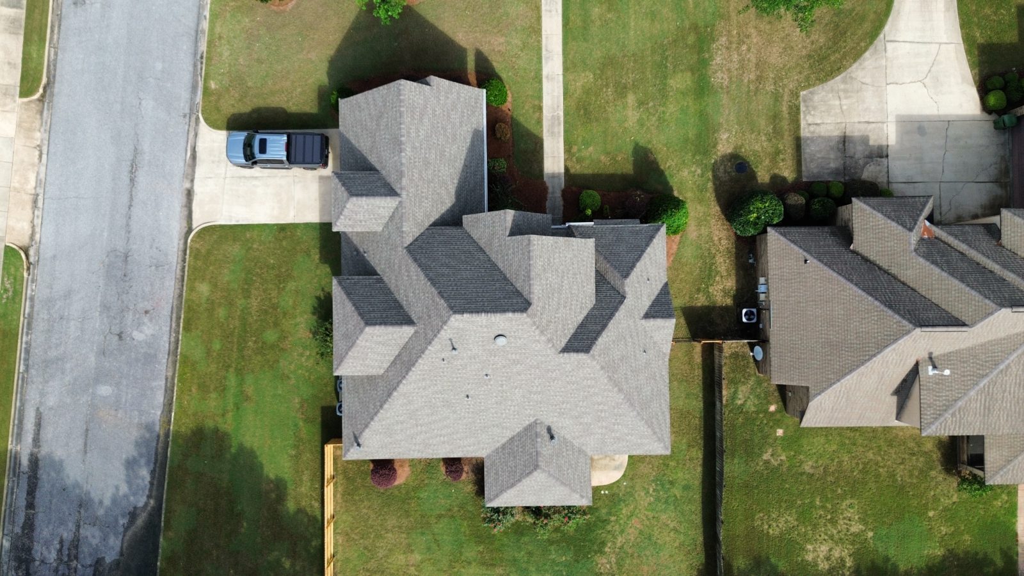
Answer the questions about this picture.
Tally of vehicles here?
1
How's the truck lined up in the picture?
from side to side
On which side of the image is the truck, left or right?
left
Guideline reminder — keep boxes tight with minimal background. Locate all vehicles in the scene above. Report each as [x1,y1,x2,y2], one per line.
[226,127,333,170]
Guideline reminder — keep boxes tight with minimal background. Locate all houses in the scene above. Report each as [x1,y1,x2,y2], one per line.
[759,109,1024,486]
[331,76,674,508]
